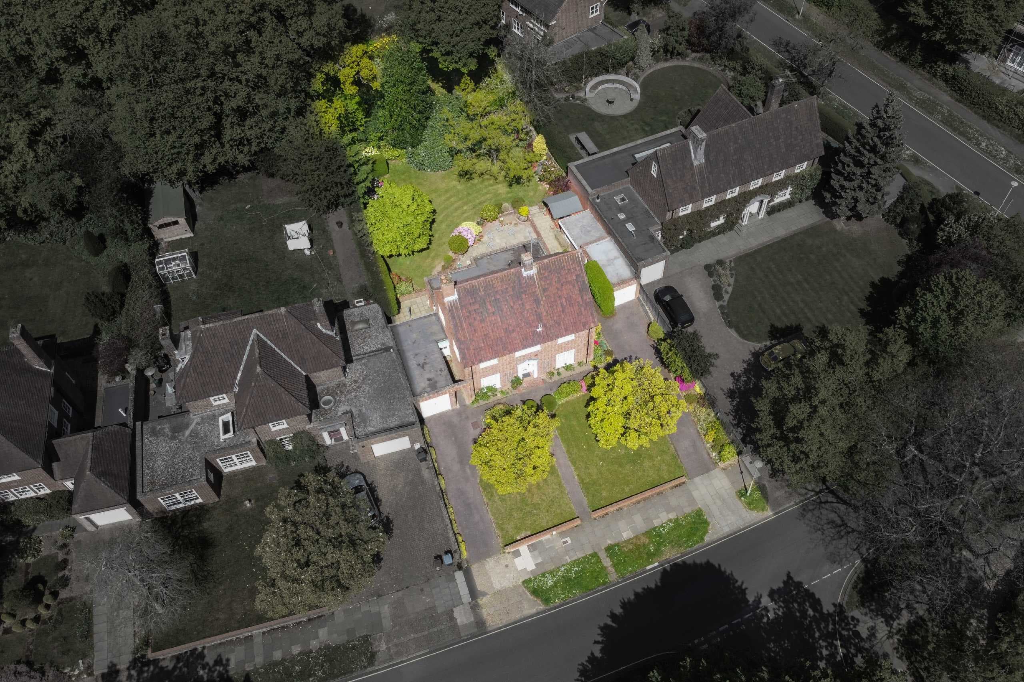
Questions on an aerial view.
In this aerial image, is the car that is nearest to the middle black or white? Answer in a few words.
black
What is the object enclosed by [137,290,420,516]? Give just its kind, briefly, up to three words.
house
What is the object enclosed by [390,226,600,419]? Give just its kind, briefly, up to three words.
house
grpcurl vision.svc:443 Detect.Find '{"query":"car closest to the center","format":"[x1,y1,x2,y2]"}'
[655,285,696,332]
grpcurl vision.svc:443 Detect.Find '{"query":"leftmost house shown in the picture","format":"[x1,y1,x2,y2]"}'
[0,319,150,531]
